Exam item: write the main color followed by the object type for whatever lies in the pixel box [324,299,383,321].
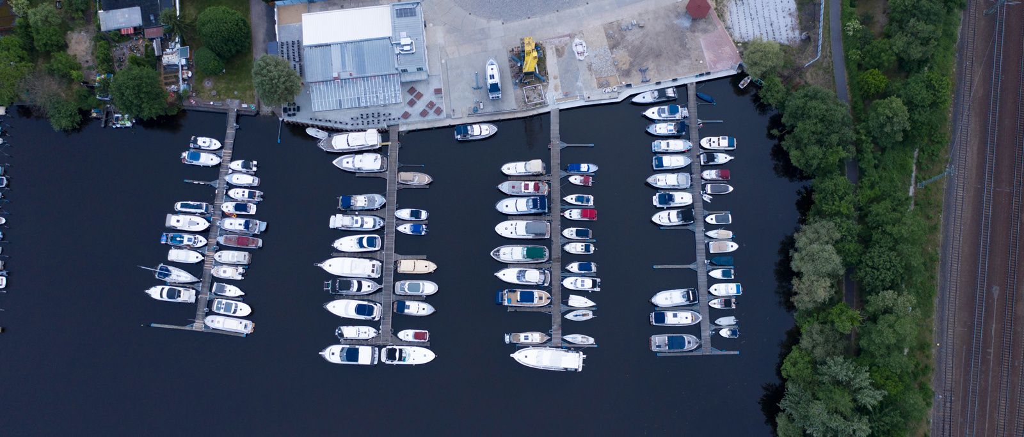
white boat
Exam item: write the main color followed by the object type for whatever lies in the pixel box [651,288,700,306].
white boat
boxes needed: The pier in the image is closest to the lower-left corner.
[151,112,259,337]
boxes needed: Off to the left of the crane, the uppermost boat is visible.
[486,58,501,102]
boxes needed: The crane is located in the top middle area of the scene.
[509,35,548,92]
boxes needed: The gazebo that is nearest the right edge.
[686,0,709,21]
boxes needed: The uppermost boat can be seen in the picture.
[573,40,586,62]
